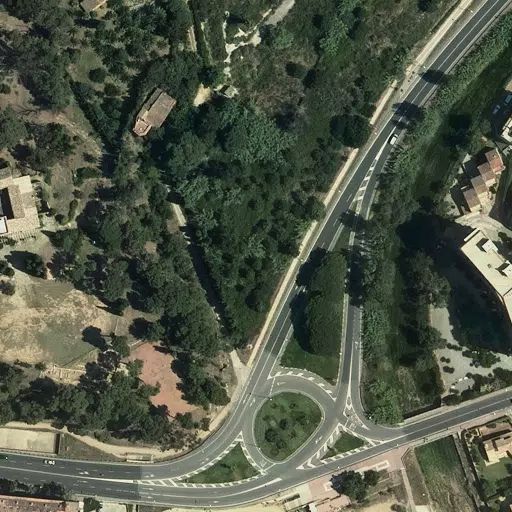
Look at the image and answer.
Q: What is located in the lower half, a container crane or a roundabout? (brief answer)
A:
roundabout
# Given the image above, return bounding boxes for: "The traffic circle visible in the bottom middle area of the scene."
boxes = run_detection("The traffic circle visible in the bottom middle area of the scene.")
[248,380,334,473]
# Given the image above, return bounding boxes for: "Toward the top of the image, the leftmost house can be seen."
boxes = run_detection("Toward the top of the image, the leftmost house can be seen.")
[0,166,40,234]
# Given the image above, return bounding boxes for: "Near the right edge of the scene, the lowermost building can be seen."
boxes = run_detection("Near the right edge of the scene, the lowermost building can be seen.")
[483,432,512,466]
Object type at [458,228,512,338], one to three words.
building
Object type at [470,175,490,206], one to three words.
house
